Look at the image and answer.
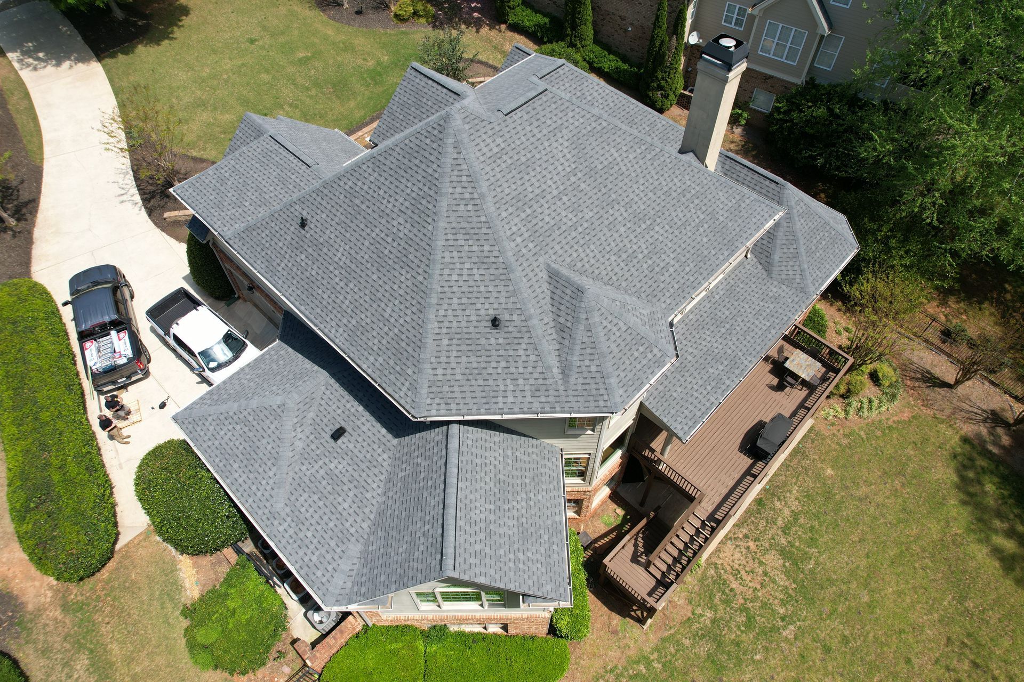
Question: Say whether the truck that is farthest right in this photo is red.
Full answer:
No, the color of the truck that is farthest right is white.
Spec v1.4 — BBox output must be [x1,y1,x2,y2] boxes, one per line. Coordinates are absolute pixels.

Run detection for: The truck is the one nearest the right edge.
[145,289,257,387]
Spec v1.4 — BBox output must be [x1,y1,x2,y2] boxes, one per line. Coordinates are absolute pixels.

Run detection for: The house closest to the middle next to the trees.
[169,34,863,635]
